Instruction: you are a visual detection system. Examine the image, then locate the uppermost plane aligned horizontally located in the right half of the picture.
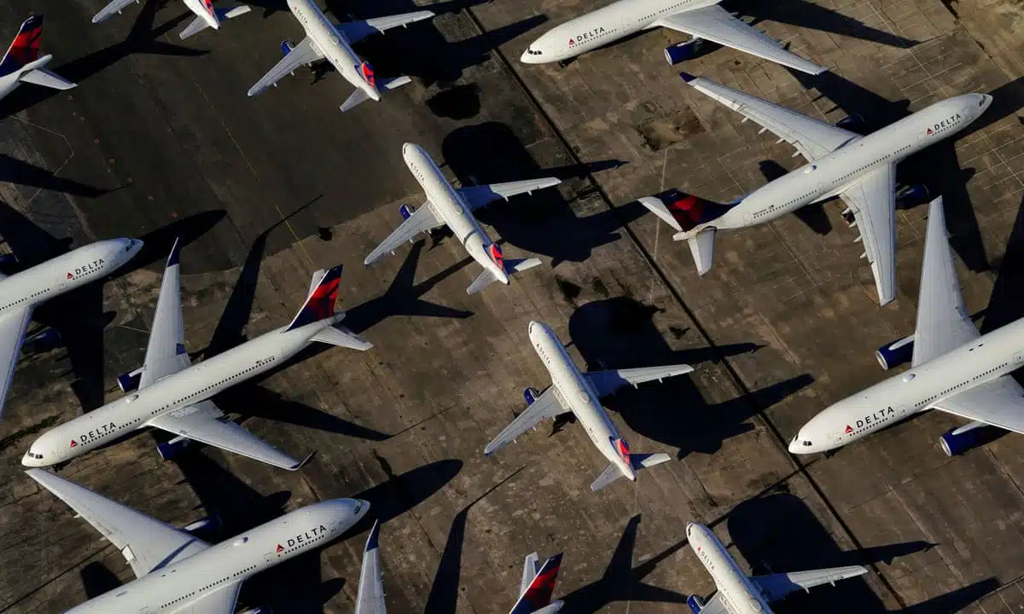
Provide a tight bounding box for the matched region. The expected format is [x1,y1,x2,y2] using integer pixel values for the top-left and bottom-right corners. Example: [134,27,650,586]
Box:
[522,0,836,74]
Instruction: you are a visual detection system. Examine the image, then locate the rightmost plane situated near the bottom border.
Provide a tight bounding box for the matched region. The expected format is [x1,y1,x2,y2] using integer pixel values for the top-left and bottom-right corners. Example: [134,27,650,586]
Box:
[683,523,867,614]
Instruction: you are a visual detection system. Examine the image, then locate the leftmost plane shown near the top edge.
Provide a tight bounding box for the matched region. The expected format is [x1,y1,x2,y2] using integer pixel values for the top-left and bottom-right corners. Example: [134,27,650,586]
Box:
[0,12,78,95]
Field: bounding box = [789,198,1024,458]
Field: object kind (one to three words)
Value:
airplane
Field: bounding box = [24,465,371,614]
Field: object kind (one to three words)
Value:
airplane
